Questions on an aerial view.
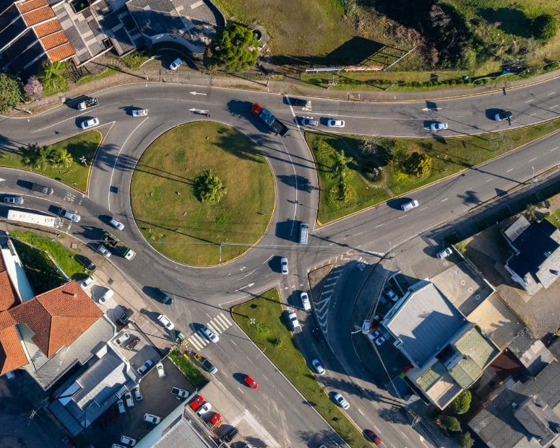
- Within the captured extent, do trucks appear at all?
Yes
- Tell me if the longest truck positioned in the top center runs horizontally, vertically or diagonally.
diagonally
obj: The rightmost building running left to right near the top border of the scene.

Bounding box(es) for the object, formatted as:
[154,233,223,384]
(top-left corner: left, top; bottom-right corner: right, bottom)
[126,0,225,47]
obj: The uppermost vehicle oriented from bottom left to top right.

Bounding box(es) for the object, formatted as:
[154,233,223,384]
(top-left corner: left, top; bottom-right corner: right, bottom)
[169,55,184,71]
